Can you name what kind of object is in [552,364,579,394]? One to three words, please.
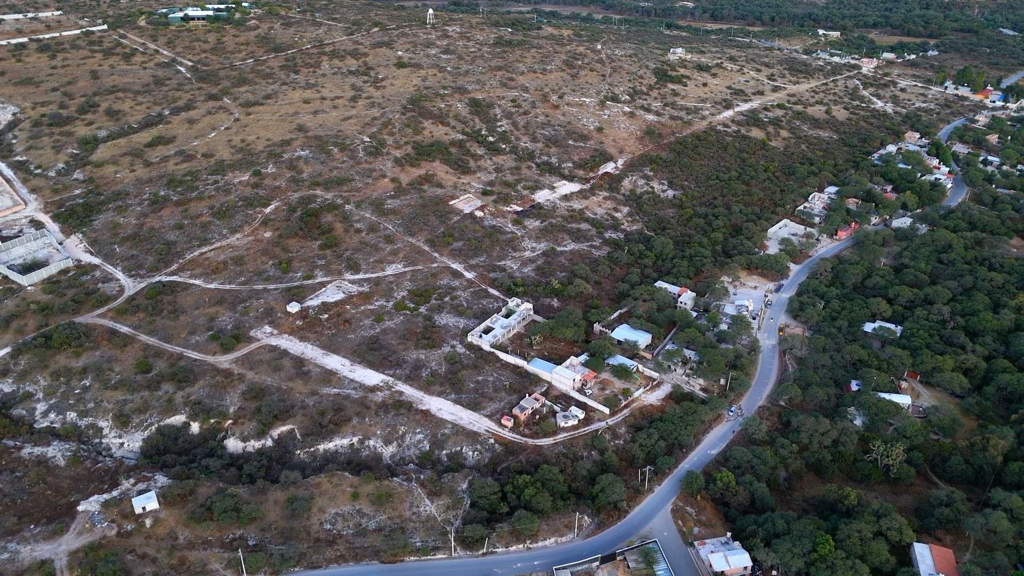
house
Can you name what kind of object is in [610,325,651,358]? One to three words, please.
building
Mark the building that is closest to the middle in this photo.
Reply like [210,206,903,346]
[468,299,535,354]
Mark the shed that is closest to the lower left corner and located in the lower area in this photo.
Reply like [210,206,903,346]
[134,488,163,514]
